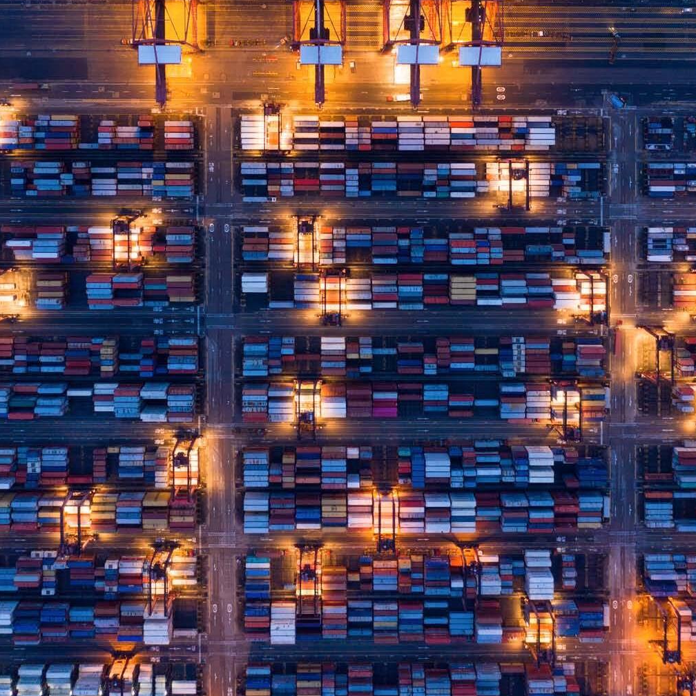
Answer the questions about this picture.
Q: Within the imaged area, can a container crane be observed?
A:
Yes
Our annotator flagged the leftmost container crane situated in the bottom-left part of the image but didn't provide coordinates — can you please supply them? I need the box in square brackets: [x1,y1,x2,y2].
[59,485,94,556]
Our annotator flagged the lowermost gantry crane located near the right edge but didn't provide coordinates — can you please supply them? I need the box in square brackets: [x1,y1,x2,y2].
[658,649,695,696]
